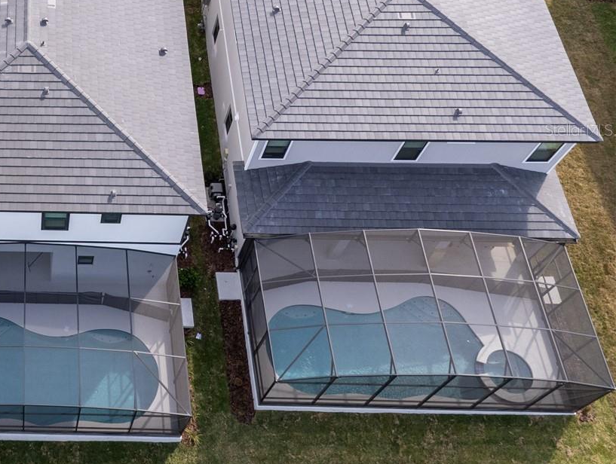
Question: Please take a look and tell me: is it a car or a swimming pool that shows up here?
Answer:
swimming pool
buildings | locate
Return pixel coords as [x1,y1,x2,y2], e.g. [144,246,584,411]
[0,0,211,281]
[201,0,603,266]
